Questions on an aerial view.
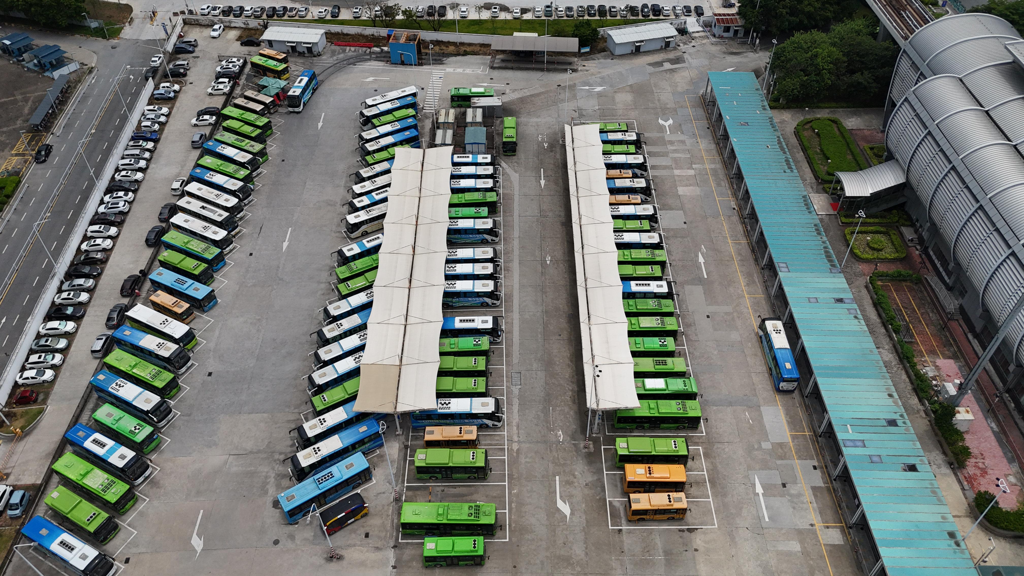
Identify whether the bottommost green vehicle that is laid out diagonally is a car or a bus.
bus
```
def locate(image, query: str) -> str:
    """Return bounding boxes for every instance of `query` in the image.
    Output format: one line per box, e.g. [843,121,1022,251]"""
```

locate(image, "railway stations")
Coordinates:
[877,10,1024,423]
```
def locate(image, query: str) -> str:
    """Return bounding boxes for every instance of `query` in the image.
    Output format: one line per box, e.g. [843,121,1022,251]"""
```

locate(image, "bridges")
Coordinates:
[857,0,938,70]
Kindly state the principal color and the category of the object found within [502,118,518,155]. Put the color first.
green vehicle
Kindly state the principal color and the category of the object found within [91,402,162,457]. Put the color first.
green bus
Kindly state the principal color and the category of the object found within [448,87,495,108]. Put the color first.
green bus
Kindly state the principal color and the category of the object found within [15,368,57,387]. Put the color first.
white car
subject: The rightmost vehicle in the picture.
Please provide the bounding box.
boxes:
[758,314,800,393]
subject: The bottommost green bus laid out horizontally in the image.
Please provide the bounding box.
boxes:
[416,535,496,570]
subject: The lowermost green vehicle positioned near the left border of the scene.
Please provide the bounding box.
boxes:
[45,486,118,545]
